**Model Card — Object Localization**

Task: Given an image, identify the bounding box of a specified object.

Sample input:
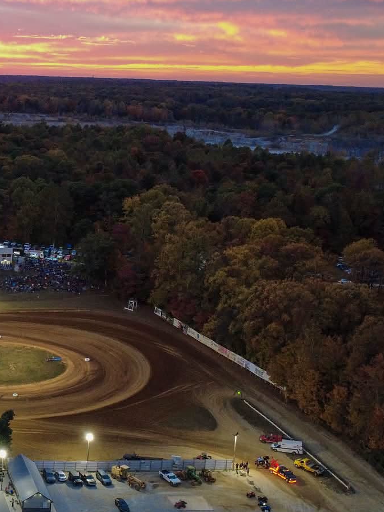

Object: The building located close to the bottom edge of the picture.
[5,449,56,512]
